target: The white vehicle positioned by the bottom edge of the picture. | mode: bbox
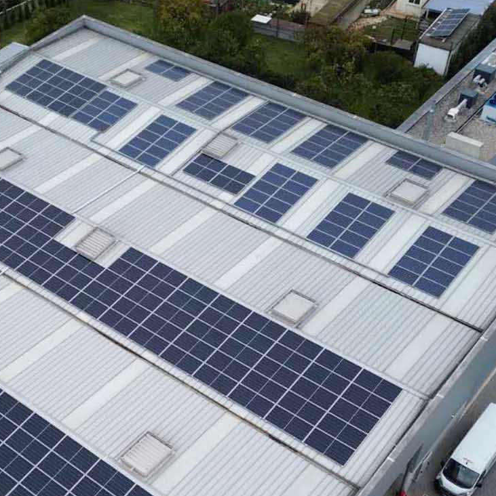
[435,403,496,496]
